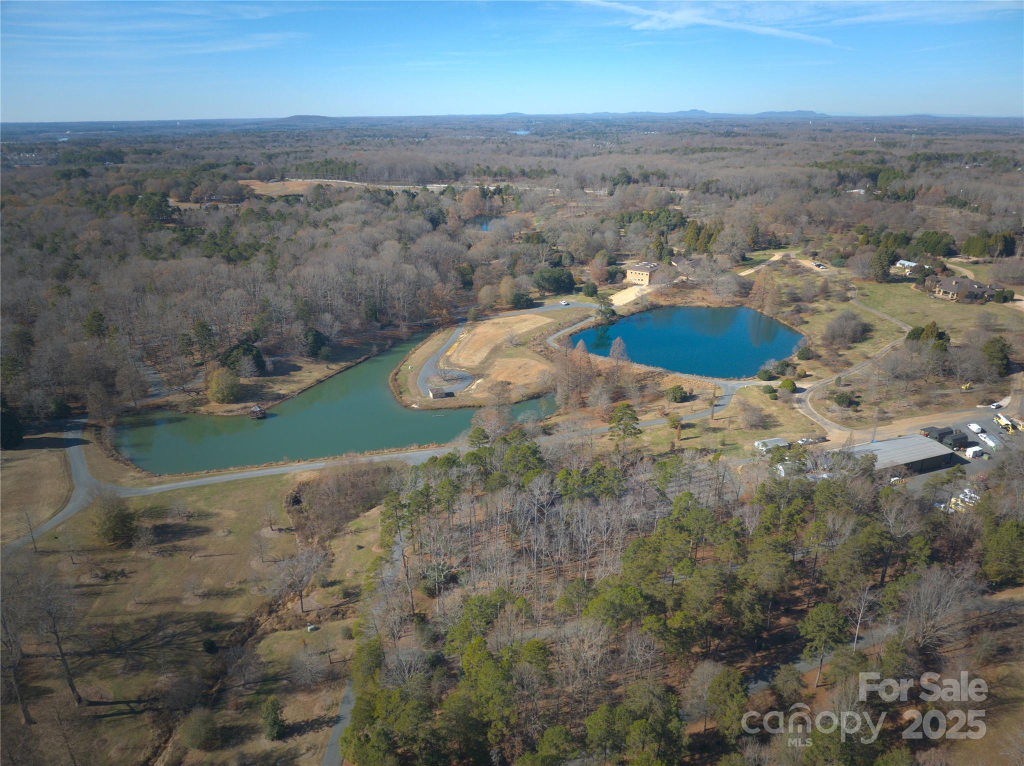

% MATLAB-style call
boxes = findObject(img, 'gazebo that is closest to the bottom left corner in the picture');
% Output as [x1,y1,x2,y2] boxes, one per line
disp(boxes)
[248,404,266,418]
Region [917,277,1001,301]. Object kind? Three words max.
house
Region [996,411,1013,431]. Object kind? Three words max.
vehicle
